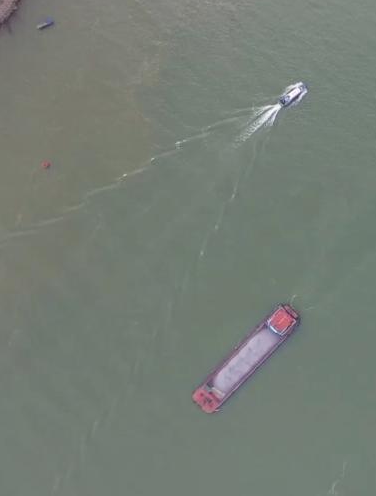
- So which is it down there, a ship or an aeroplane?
ship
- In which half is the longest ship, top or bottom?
bottom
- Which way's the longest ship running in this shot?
at an angle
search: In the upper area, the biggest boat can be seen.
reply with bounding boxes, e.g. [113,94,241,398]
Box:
[279,85,306,104]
